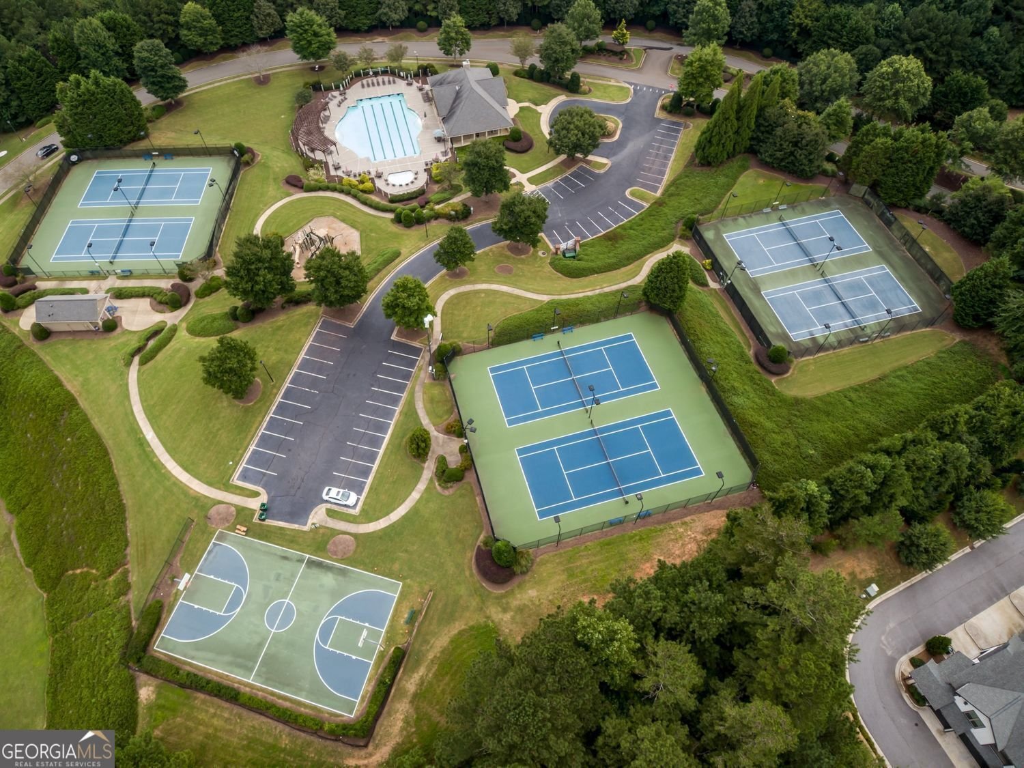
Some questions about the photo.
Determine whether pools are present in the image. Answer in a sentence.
Yes, a pool can be made out from above.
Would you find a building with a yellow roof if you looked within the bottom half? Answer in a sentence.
No, the scene shows no building with a yellow roof within the bottom half.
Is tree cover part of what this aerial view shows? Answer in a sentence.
Yes, the picture does contain tree cover.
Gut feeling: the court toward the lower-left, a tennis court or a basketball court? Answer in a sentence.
Looking closely, the court toward the lower-left is a basketball court.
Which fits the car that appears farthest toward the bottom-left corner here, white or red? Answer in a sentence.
From above, the car that appears farthest toward the bottom-left corner appears white.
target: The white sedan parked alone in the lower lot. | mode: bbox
[317,481,354,503]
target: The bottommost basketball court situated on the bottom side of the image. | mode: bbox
[147,522,398,712]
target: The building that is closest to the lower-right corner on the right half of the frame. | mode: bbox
[899,643,1024,768]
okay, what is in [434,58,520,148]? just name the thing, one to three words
building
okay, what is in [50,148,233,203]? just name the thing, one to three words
tennis court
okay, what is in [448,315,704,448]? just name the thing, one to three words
tennis court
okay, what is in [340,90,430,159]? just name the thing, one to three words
swimming pool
